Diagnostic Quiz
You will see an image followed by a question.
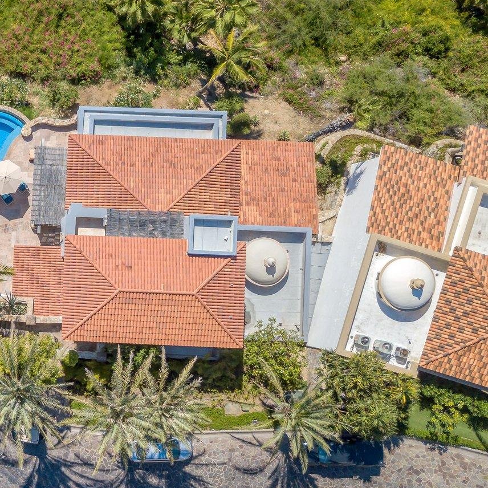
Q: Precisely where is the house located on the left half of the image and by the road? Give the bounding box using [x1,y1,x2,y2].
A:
[11,107,319,361]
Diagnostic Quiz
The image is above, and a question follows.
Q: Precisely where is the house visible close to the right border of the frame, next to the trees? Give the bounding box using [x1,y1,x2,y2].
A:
[305,125,488,393]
